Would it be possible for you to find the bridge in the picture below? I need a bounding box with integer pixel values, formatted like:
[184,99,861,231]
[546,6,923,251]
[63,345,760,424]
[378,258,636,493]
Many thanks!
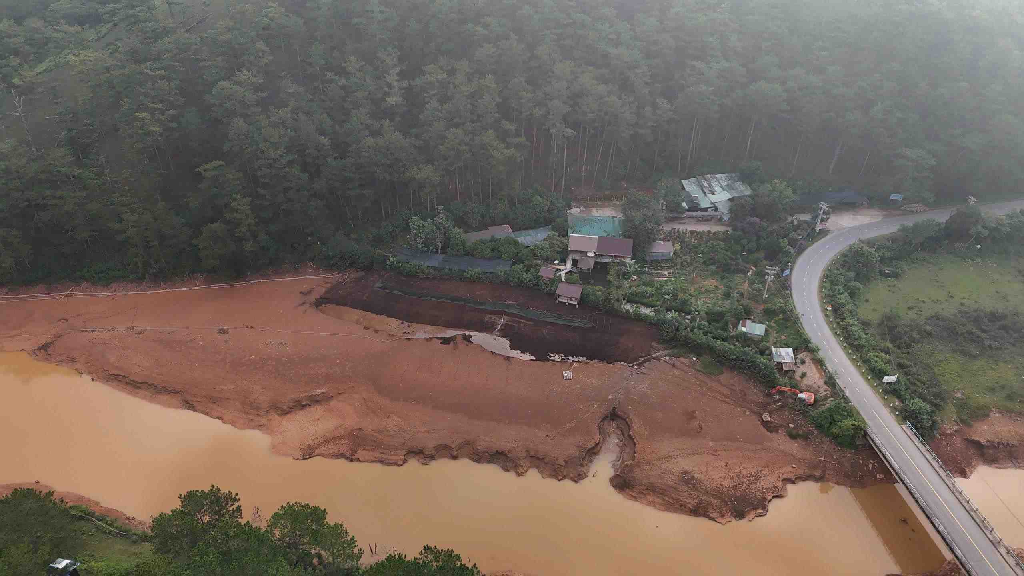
[872,410,1024,576]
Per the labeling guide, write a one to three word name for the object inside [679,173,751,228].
shed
